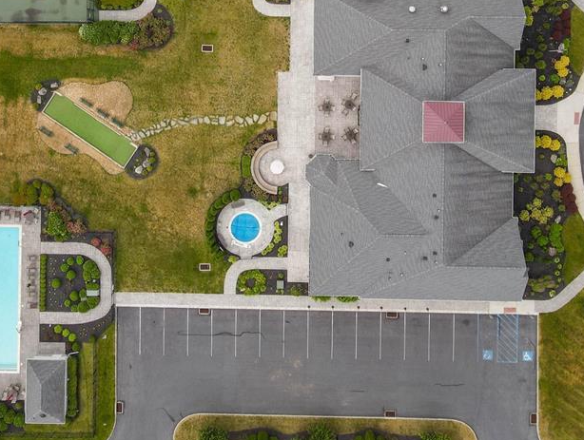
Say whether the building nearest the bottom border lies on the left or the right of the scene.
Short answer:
left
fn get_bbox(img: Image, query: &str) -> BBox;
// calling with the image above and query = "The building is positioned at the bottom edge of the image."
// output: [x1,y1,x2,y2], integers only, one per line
[24,355,70,425]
